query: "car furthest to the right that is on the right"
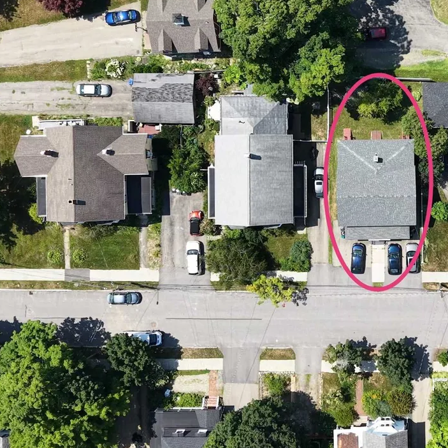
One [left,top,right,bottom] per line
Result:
[406,243,419,274]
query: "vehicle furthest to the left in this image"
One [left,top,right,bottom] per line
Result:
[76,82,112,98]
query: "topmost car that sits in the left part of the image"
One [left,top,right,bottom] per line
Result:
[105,10,140,26]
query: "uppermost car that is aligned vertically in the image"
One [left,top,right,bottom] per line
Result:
[312,166,326,198]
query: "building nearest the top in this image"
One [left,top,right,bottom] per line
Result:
[145,0,222,54]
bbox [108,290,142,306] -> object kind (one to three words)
car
